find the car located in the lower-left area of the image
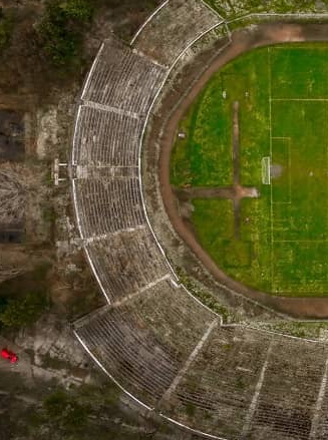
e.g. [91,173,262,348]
[1,348,18,361]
